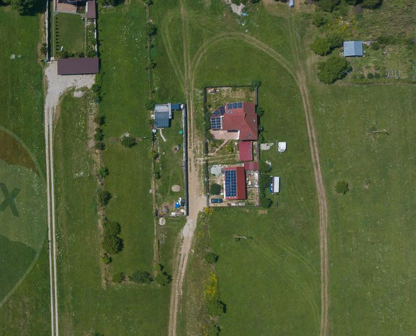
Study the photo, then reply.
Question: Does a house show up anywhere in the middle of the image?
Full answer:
Yes, you'll find a house in the middle of the image.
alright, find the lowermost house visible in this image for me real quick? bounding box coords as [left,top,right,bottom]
[221,167,246,200]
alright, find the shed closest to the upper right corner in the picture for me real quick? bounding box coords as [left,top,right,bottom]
[341,41,363,57]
